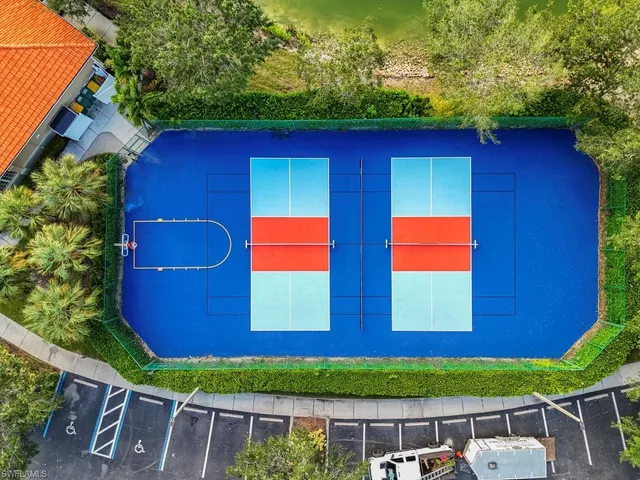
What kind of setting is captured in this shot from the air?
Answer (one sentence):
This looks like a sports ground.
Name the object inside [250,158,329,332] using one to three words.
sports court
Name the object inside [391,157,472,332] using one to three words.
sports court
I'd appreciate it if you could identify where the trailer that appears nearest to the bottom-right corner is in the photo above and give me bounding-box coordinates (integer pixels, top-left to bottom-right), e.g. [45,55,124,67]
[452,433,554,480]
